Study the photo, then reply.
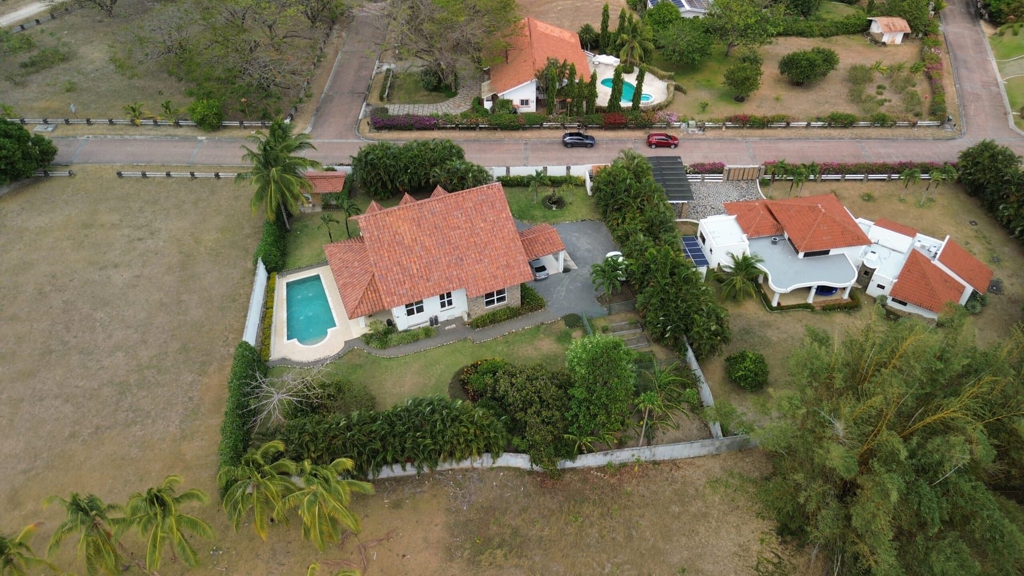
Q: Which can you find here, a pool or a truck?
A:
pool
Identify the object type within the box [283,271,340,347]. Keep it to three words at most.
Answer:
swimming pool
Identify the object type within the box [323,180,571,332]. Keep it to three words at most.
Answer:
house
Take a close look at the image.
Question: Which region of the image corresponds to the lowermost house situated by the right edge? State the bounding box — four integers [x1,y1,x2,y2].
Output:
[696,192,993,329]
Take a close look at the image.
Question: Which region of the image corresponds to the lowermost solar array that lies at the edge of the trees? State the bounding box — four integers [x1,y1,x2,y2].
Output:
[674,236,709,280]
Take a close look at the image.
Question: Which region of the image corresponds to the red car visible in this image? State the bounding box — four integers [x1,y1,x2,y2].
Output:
[646,133,680,149]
